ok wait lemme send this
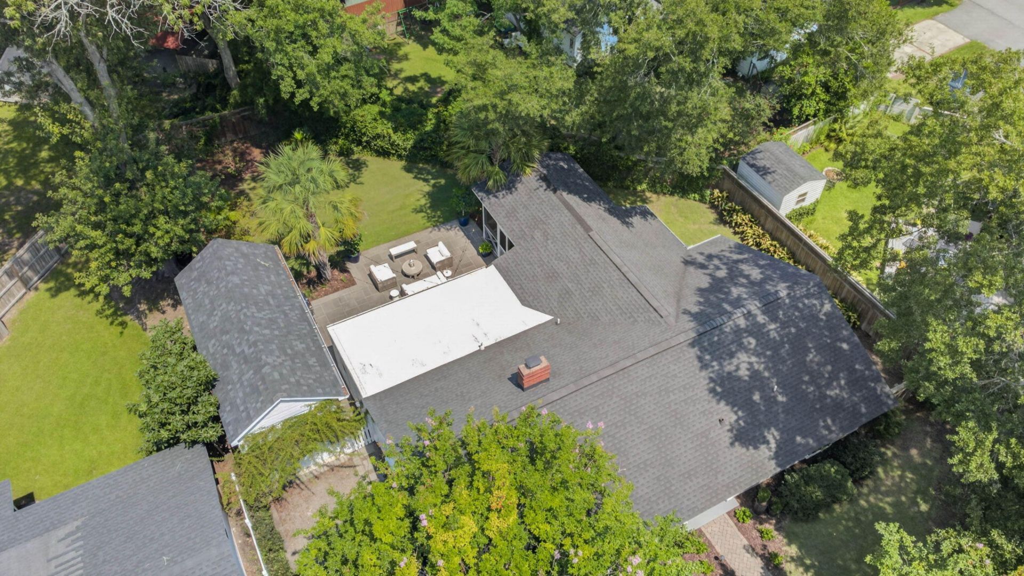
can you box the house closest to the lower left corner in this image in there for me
[0,445,242,576]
